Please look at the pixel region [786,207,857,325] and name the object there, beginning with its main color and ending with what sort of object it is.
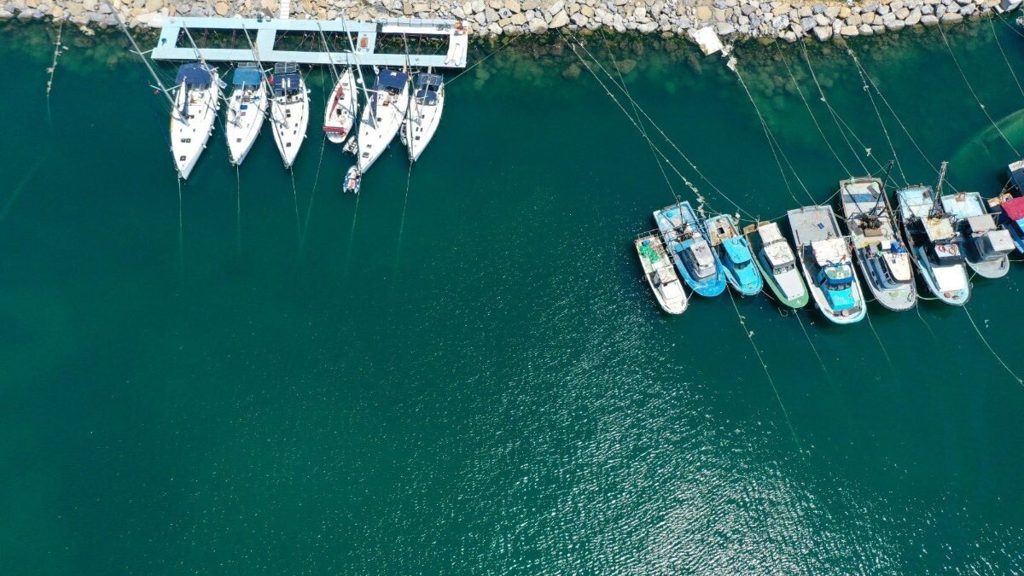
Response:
white boat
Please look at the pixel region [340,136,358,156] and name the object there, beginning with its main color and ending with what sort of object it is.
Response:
gray boat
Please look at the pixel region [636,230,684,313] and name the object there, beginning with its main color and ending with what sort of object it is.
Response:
white boat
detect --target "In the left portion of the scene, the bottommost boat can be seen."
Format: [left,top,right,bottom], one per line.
[343,167,363,198]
